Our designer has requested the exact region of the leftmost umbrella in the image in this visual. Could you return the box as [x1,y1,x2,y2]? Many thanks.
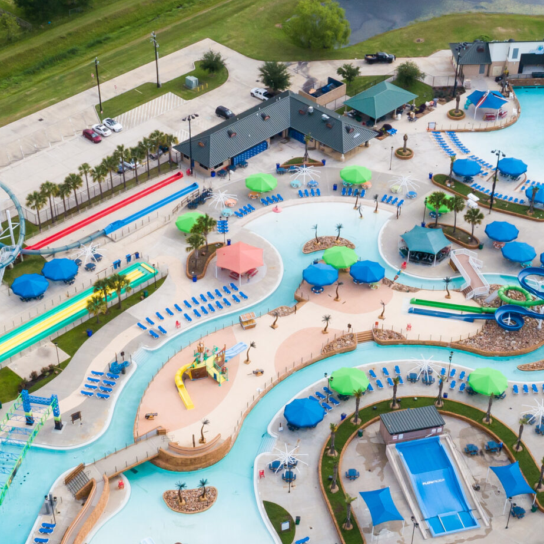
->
[12,276,47,301]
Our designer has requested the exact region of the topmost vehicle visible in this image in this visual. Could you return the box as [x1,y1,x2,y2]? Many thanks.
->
[365,50,396,63]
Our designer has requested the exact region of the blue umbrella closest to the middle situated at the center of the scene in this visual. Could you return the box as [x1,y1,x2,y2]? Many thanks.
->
[303,262,339,285]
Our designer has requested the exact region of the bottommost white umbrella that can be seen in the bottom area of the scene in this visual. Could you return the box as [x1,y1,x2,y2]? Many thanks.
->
[263,444,307,474]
